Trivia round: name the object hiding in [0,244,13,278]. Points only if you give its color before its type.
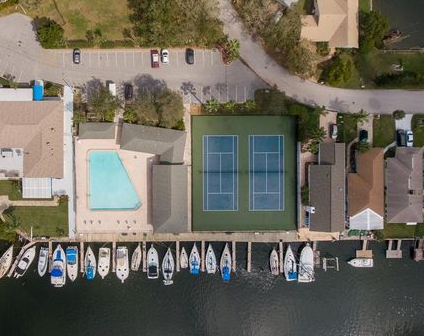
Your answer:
white boat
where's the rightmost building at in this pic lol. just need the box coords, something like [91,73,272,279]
[384,147,424,225]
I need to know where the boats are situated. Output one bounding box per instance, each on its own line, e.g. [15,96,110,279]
[345,259,375,267]
[83,243,96,280]
[0,244,13,278]
[268,245,285,276]
[115,243,130,285]
[296,242,315,285]
[131,244,141,271]
[146,244,158,280]
[204,243,218,274]
[220,243,236,282]
[65,247,79,284]
[179,244,189,269]
[96,243,110,280]
[51,243,66,287]
[36,245,49,279]
[163,280,173,287]
[188,243,201,275]
[13,244,36,280]
[161,243,176,280]
[283,243,306,281]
